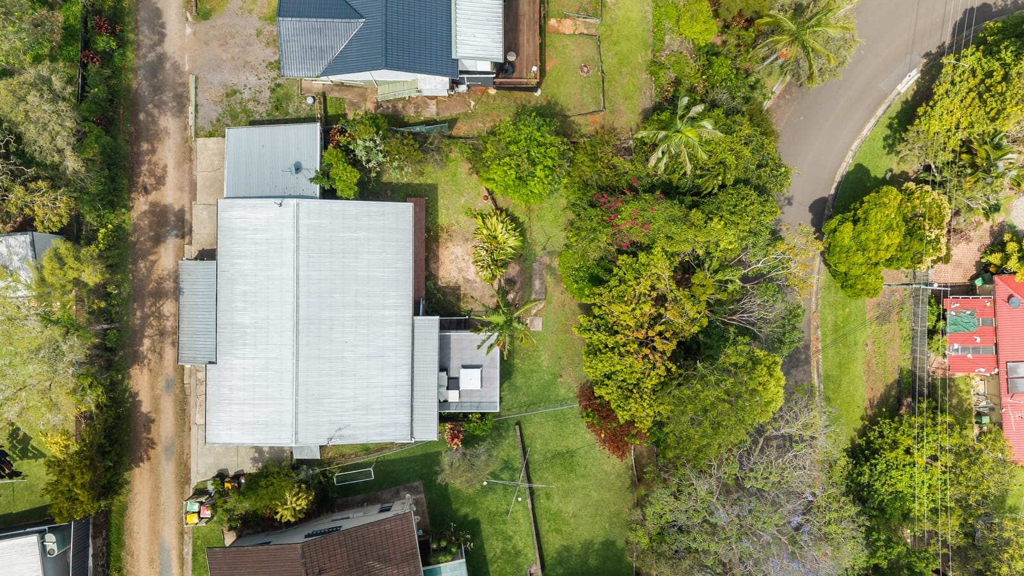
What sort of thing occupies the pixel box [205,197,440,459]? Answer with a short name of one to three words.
house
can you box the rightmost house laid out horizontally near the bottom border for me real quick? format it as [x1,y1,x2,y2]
[204,487,425,576]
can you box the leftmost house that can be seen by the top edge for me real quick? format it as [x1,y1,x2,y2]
[277,0,457,96]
